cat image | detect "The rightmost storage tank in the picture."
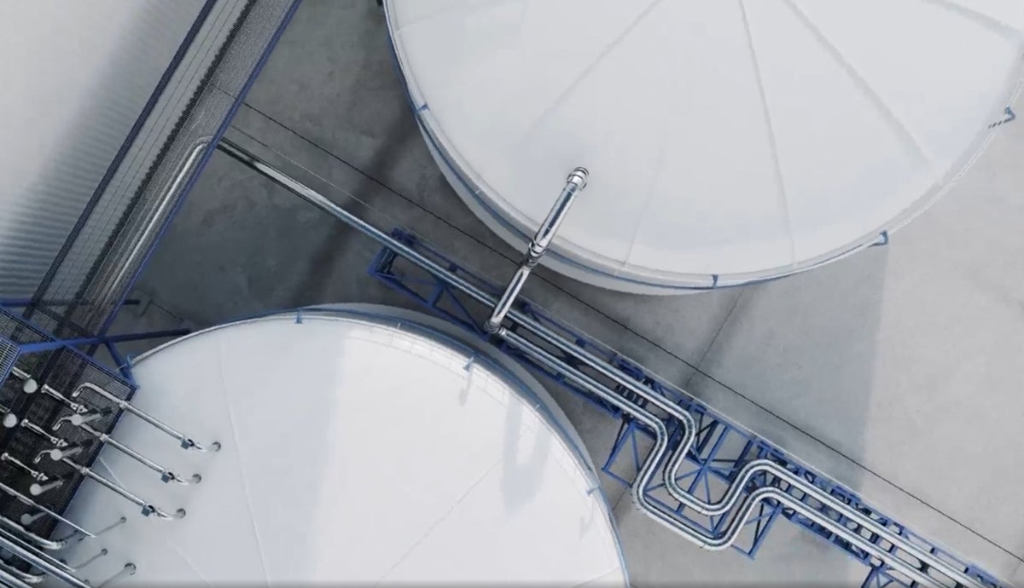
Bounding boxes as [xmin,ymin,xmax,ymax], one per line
[371,0,1024,294]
